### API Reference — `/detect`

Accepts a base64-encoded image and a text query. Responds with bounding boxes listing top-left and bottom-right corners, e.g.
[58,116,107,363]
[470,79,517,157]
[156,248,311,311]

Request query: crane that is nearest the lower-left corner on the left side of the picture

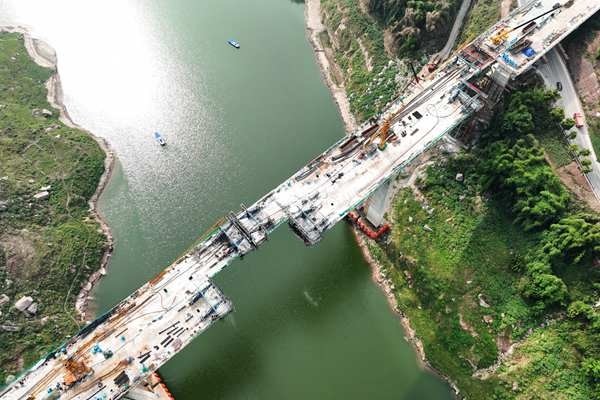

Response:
[59,350,96,388]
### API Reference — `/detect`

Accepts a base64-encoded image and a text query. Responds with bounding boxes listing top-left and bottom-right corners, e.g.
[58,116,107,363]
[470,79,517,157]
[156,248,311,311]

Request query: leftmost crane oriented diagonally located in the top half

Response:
[364,108,411,155]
